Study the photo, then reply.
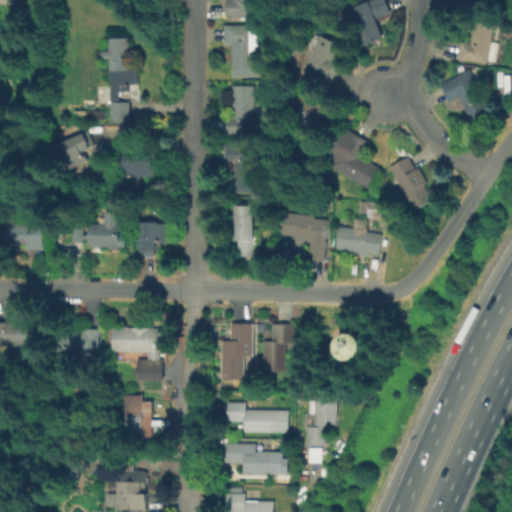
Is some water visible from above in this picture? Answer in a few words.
No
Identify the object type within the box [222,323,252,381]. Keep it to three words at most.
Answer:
house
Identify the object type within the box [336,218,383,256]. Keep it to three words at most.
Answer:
house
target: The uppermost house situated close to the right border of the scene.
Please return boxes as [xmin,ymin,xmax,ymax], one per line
[456,25,492,62]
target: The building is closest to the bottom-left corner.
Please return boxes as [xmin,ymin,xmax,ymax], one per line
[106,470,149,512]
